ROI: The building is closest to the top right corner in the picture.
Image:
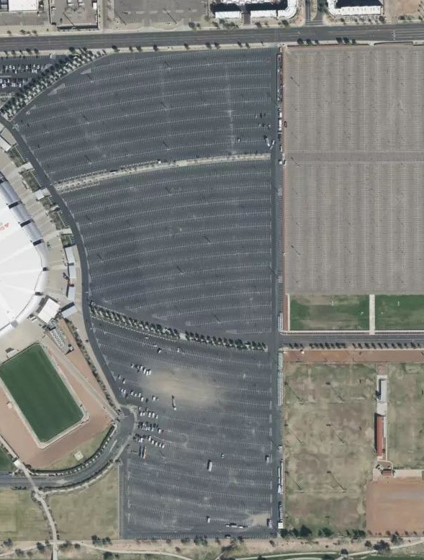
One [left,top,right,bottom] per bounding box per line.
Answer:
[327,0,382,16]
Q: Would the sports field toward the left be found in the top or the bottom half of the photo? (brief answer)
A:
bottom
